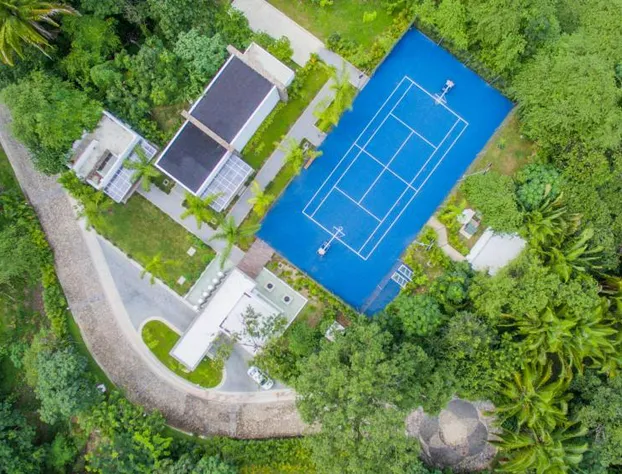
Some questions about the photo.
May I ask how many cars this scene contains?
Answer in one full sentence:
I count just 1 car.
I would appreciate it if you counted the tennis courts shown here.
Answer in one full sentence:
The picture shows just 1 tennis court.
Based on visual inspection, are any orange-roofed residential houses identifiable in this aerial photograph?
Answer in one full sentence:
No, no orange-roofed residential house can be seen from above.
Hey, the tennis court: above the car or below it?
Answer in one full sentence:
The tennis court is above the car.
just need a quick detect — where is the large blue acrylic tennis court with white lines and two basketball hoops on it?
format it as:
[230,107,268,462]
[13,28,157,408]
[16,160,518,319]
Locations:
[257,27,518,321]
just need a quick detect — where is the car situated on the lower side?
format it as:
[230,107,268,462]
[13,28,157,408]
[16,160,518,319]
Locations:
[245,364,274,391]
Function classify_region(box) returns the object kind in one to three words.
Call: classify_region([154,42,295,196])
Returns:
house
